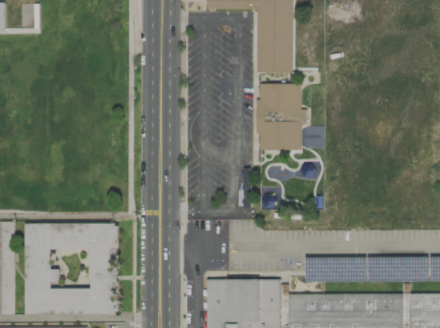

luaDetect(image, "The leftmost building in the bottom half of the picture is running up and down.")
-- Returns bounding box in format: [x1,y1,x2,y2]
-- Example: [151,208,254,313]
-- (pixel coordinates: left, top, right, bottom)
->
[2,222,14,314]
